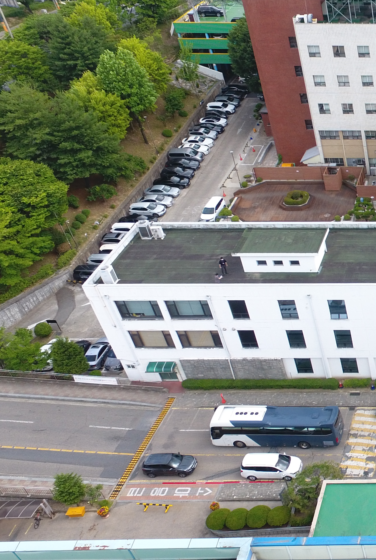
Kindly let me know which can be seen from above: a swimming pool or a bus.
bus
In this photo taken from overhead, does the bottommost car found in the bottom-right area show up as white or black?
white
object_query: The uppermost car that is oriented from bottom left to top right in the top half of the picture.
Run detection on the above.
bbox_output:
[199,195,234,222]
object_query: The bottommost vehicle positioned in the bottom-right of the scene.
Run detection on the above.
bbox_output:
[243,450,306,478]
